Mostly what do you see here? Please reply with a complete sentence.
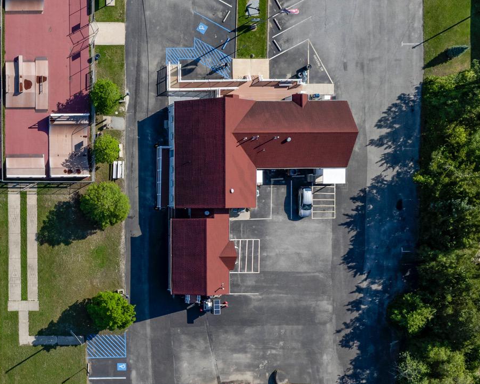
For the most part, this view shows paved ground.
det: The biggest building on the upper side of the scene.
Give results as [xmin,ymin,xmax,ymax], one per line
[170,94,358,208]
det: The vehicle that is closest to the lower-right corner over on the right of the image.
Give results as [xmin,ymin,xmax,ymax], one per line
[296,185,315,218]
